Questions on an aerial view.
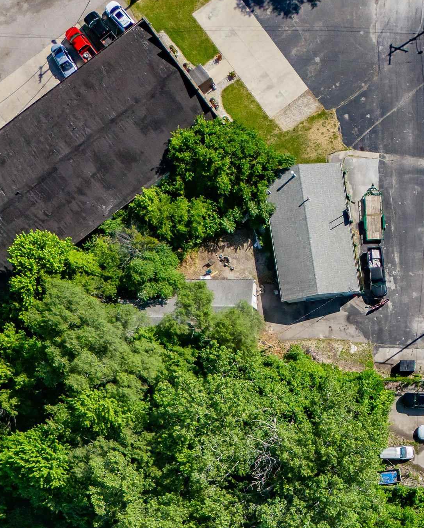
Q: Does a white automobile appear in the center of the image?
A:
No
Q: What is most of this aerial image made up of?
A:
trees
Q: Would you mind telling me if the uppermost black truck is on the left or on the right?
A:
left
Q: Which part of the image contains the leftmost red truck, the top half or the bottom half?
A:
top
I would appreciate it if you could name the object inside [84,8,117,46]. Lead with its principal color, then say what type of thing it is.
black truck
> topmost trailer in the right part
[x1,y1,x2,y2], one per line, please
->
[360,186,388,241]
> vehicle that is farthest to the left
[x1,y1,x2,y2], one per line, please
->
[48,41,77,76]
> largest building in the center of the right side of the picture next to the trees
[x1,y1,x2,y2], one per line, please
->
[260,163,362,303]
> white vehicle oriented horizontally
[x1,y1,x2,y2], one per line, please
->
[379,445,416,462]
